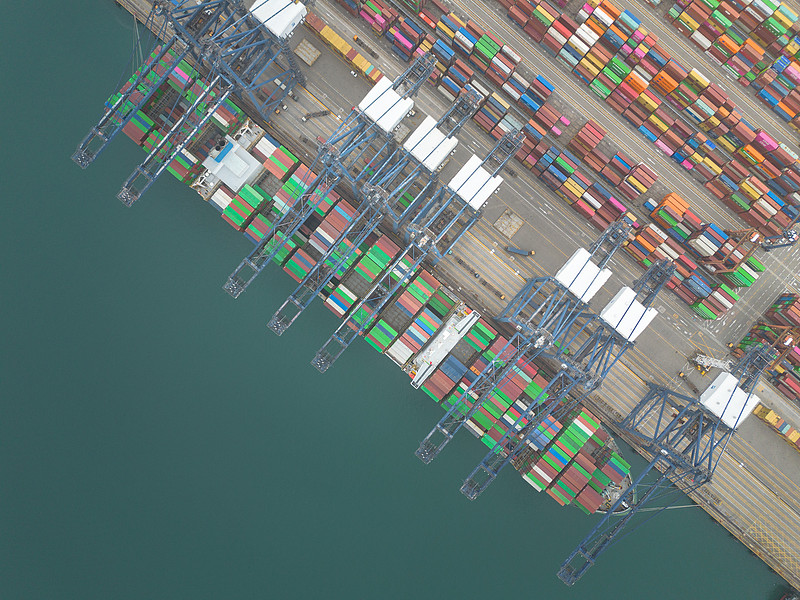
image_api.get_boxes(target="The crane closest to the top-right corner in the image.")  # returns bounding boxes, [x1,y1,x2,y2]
[761,207,800,255]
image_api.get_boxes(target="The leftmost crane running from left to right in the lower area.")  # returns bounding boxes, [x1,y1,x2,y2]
[688,350,745,376]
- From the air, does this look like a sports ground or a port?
port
